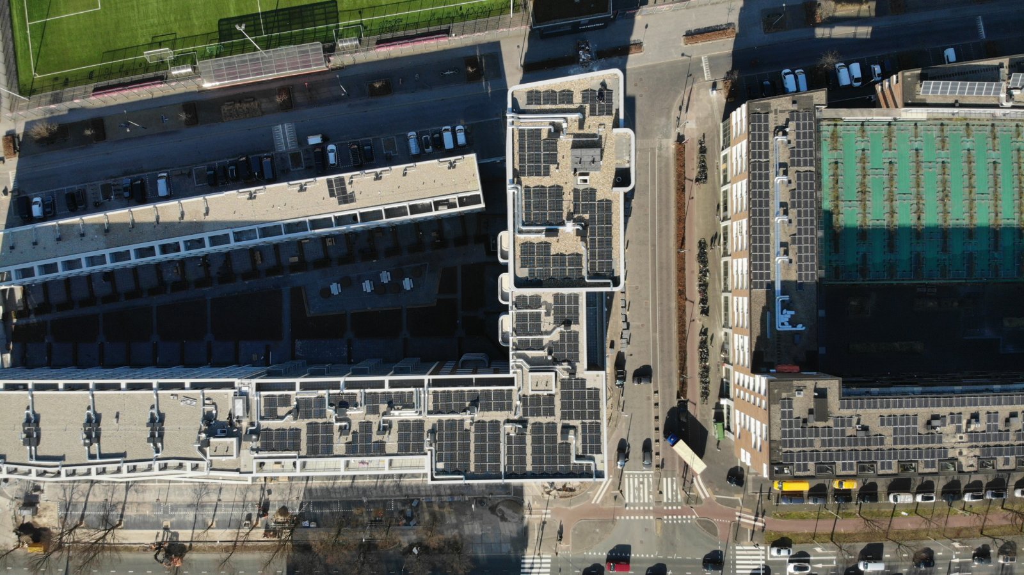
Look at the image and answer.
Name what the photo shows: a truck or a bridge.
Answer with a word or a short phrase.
truck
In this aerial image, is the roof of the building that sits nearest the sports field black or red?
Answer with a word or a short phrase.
black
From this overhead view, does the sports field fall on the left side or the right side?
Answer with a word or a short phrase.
left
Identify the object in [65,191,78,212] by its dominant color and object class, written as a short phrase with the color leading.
black vehicle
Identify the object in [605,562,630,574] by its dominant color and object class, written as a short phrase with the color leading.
red vehicle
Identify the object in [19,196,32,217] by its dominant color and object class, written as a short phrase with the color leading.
black vehicle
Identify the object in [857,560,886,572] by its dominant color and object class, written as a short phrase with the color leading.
white vehicle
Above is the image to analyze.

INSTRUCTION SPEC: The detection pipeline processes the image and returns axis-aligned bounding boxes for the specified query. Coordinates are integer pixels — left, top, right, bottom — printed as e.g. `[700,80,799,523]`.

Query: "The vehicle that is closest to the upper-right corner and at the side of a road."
[942,48,956,64]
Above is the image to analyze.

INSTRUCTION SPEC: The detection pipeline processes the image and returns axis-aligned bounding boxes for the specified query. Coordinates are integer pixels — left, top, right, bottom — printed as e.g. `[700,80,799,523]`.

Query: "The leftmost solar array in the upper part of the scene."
[327,178,353,204]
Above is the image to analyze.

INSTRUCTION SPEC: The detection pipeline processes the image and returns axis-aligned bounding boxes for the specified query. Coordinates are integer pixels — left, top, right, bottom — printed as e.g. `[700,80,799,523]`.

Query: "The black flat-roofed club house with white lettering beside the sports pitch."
[529,0,612,39]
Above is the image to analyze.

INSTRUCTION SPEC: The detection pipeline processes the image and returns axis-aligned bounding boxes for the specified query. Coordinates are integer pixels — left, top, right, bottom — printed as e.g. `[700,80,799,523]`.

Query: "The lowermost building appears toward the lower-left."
[11,508,37,522]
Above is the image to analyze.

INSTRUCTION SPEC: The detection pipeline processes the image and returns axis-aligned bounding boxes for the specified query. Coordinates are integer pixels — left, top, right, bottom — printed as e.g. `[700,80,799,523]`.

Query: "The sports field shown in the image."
[11,0,511,99]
